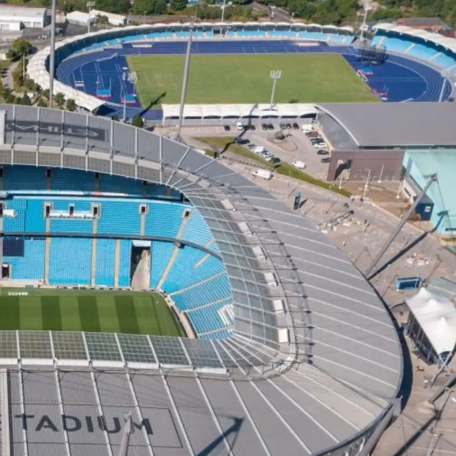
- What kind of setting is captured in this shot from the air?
sports ground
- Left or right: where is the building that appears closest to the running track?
right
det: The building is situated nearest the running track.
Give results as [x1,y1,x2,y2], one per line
[312,100,456,148]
